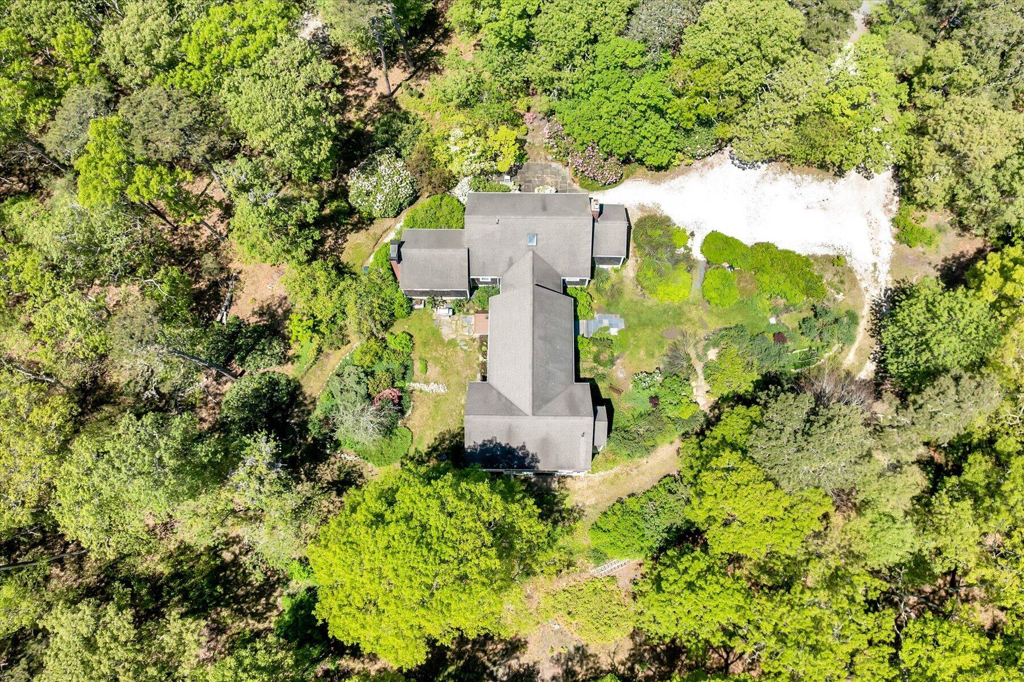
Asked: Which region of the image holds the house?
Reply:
center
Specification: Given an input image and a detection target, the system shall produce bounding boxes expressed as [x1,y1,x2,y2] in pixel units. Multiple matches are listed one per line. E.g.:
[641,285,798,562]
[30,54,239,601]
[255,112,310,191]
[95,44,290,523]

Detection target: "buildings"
[389,192,627,481]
